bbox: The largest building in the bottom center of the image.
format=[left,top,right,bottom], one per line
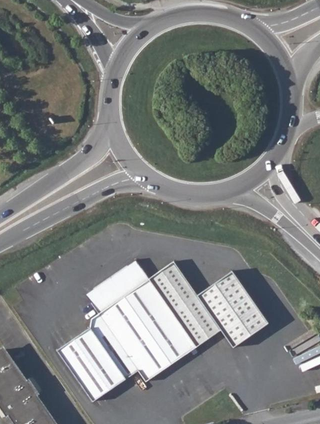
[58,260,222,402]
